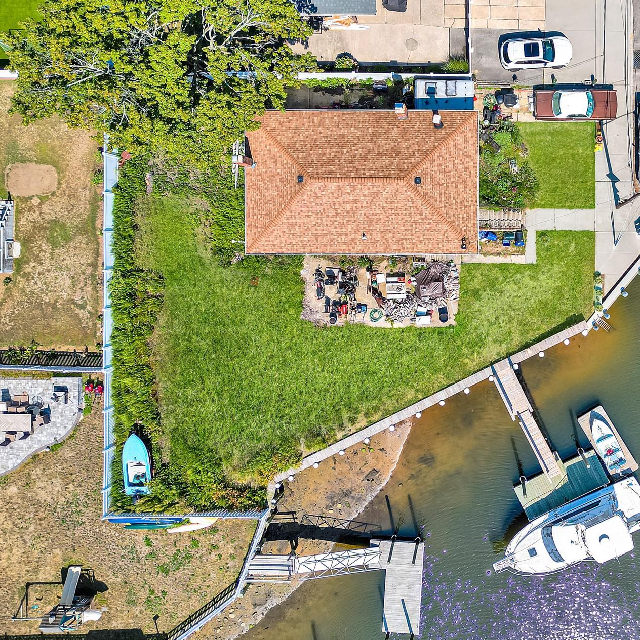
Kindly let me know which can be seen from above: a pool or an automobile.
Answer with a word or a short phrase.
automobile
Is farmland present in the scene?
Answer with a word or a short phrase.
No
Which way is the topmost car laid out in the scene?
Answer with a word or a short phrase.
from left to right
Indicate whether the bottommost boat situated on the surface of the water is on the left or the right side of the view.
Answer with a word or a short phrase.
right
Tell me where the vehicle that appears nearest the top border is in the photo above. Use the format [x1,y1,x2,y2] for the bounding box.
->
[500,32,573,71]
